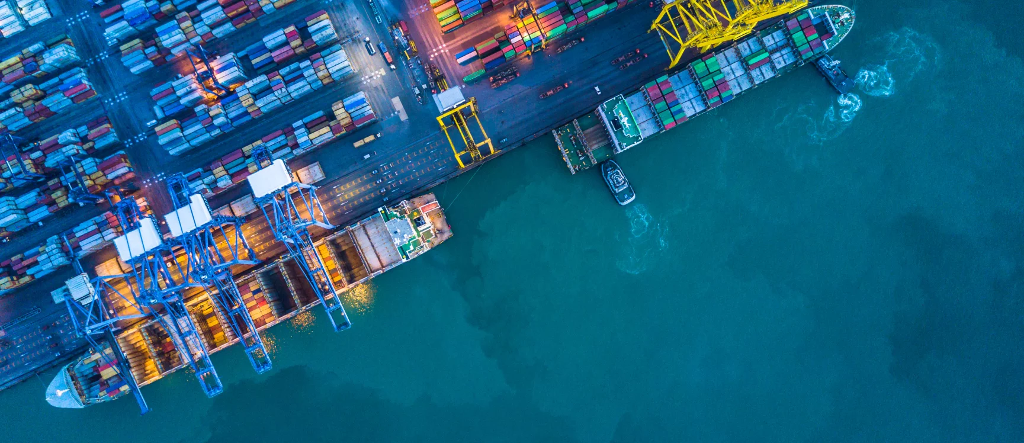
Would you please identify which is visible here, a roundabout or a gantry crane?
gantry crane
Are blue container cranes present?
Yes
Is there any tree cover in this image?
No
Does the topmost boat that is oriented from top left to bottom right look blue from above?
Yes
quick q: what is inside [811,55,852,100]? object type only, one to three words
boat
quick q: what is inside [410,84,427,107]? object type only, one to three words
work vehicle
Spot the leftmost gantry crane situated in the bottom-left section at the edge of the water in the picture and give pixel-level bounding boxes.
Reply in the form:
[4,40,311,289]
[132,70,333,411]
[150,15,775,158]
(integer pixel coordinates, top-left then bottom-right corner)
[56,239,164,416]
